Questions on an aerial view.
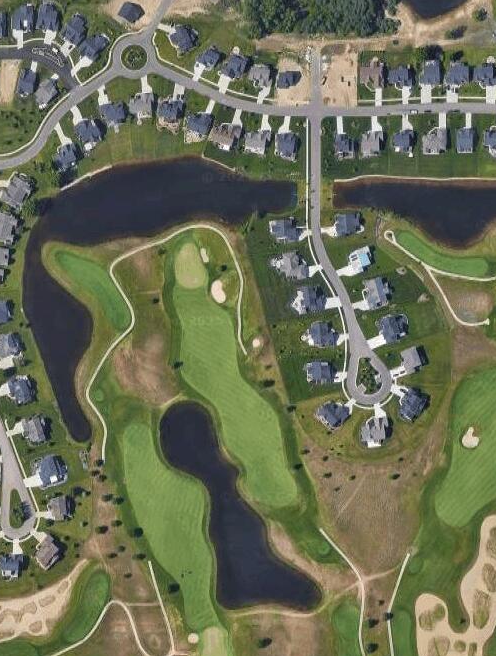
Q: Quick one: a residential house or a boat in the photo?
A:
residential house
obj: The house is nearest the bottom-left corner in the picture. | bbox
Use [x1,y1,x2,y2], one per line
[0,553,23,580]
